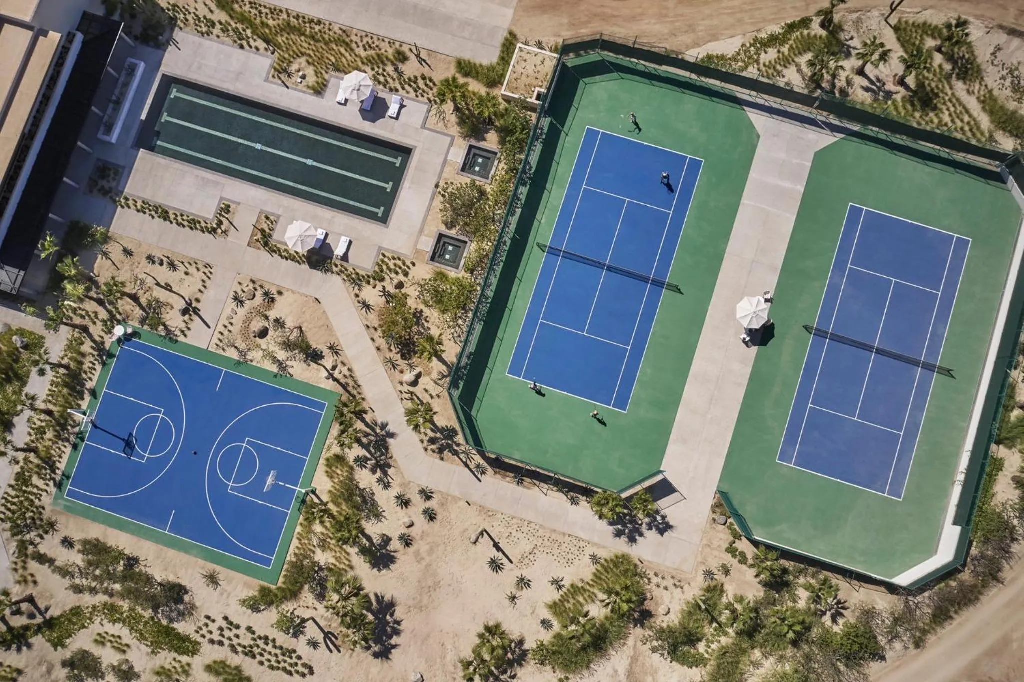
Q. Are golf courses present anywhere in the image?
No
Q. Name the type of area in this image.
sports ground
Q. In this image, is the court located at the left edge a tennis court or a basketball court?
basketball court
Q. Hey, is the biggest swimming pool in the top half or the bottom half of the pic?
top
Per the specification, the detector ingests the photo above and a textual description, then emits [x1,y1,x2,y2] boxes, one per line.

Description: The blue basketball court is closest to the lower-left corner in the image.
[51,322,341,584]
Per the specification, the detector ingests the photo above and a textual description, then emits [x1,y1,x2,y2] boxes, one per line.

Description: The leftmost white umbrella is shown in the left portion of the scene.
[286,221,319,253]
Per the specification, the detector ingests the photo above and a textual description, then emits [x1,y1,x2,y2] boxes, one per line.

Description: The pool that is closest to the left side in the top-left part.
[130,69,418,230]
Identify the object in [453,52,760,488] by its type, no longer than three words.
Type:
tennis court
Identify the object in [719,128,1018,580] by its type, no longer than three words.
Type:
tennis court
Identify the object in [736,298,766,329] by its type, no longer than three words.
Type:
umbrella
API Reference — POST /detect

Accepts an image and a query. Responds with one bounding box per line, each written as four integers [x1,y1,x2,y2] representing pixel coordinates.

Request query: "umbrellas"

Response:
[736,298,766,329]
[342,74,373,102]
[286,221,319,253]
